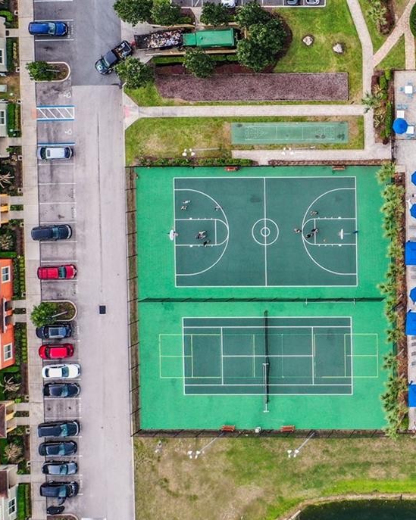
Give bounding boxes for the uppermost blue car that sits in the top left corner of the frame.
[28,19,71,37]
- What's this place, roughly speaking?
sports ground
